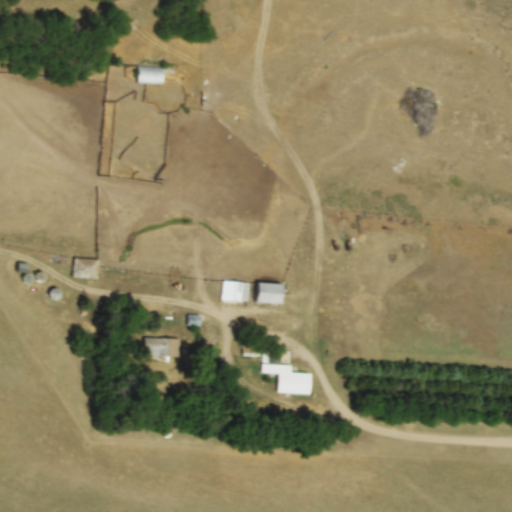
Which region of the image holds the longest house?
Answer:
bottom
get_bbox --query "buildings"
[74,259,98,278]
[221,281,249,302]
[187,314,204,327]
[242,348,311,396]
[138,66,164,84]
[256,284,286,304]
[145,338,180,365]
